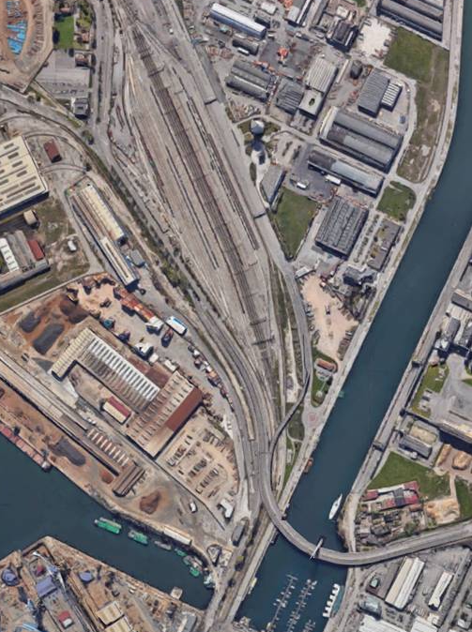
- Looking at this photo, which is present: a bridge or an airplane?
bridge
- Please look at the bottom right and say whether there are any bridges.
Yes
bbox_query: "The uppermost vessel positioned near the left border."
[0,423,49,471]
